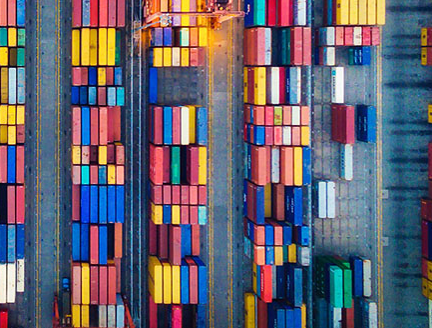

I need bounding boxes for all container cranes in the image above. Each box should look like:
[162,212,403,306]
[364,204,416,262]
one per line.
[54,293,137,328]
[142,0,245,26]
